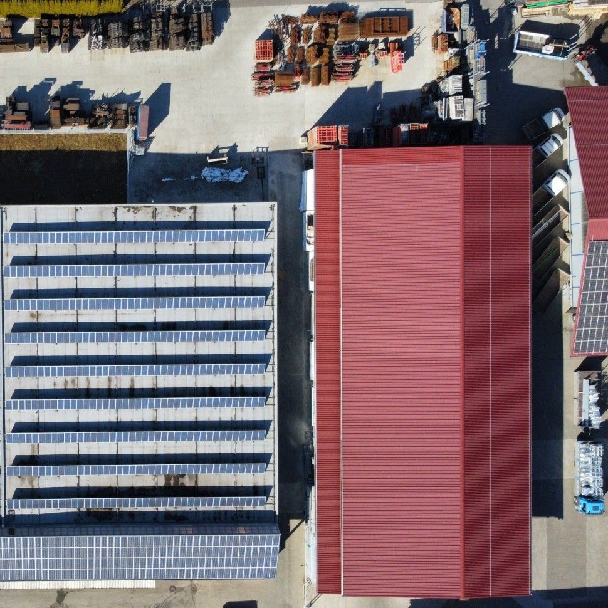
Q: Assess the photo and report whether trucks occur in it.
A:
Yes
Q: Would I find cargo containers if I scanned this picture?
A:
Yes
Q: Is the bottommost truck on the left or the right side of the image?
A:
right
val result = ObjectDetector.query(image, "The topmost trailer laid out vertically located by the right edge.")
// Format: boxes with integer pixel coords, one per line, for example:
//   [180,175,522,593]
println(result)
[574,373,602,440]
